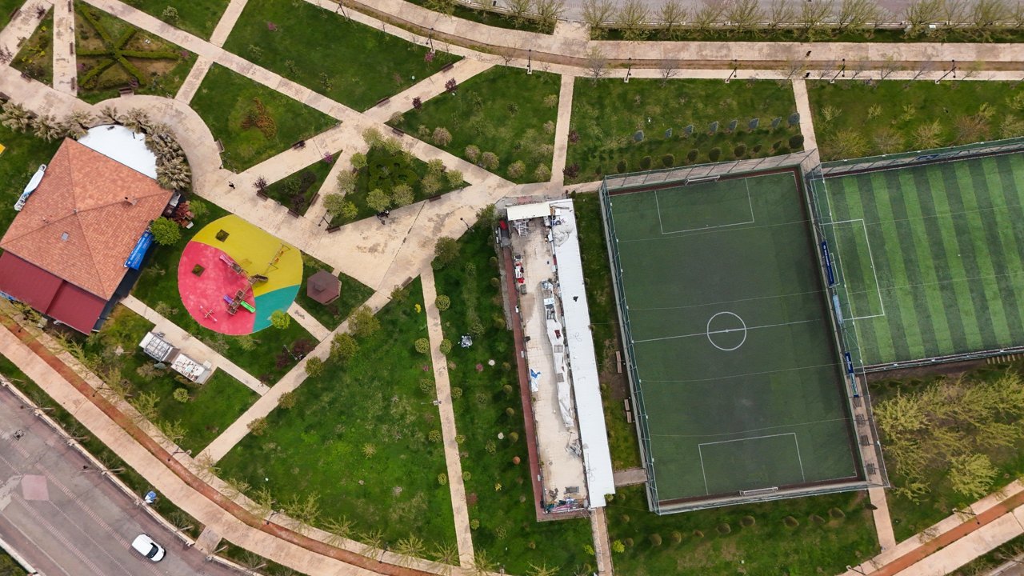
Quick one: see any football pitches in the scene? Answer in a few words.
Yes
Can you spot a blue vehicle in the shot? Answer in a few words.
No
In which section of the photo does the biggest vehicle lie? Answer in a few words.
bottom left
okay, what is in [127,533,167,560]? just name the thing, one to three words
vehicle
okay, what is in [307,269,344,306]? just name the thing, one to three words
building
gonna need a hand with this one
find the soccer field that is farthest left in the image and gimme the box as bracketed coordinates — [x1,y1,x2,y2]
[602,165,865,507]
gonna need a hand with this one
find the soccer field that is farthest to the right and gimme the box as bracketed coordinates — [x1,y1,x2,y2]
[806,141,1024,377]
